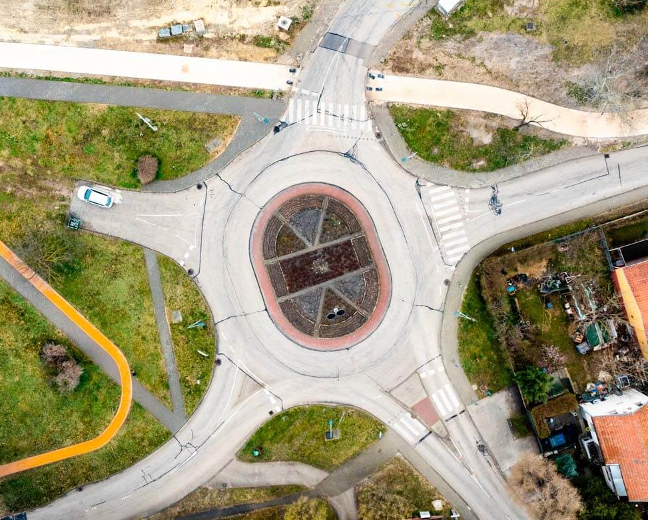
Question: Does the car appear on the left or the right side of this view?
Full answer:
You can find the car on the left side of the picture.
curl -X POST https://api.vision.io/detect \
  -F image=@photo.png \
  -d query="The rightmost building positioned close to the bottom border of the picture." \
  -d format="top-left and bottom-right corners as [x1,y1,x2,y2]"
[577,389,648,502]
